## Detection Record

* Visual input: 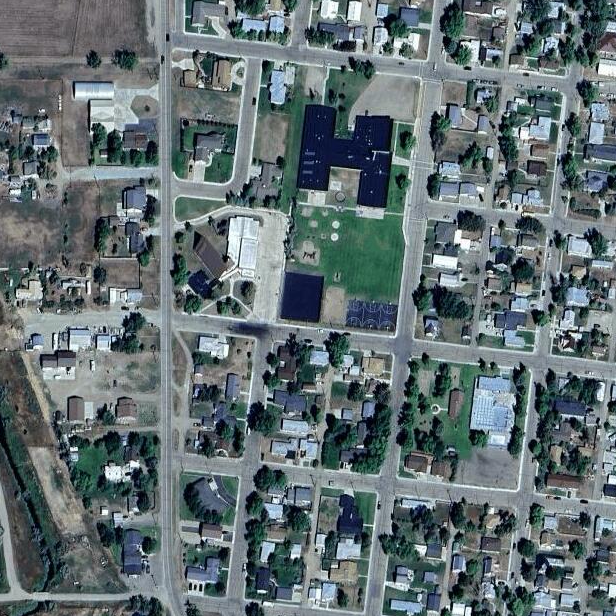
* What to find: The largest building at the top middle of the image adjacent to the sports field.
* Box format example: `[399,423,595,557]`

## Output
[298,103,394,210]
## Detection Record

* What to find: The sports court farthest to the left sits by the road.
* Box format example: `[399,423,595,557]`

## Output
[281,272,324,321]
